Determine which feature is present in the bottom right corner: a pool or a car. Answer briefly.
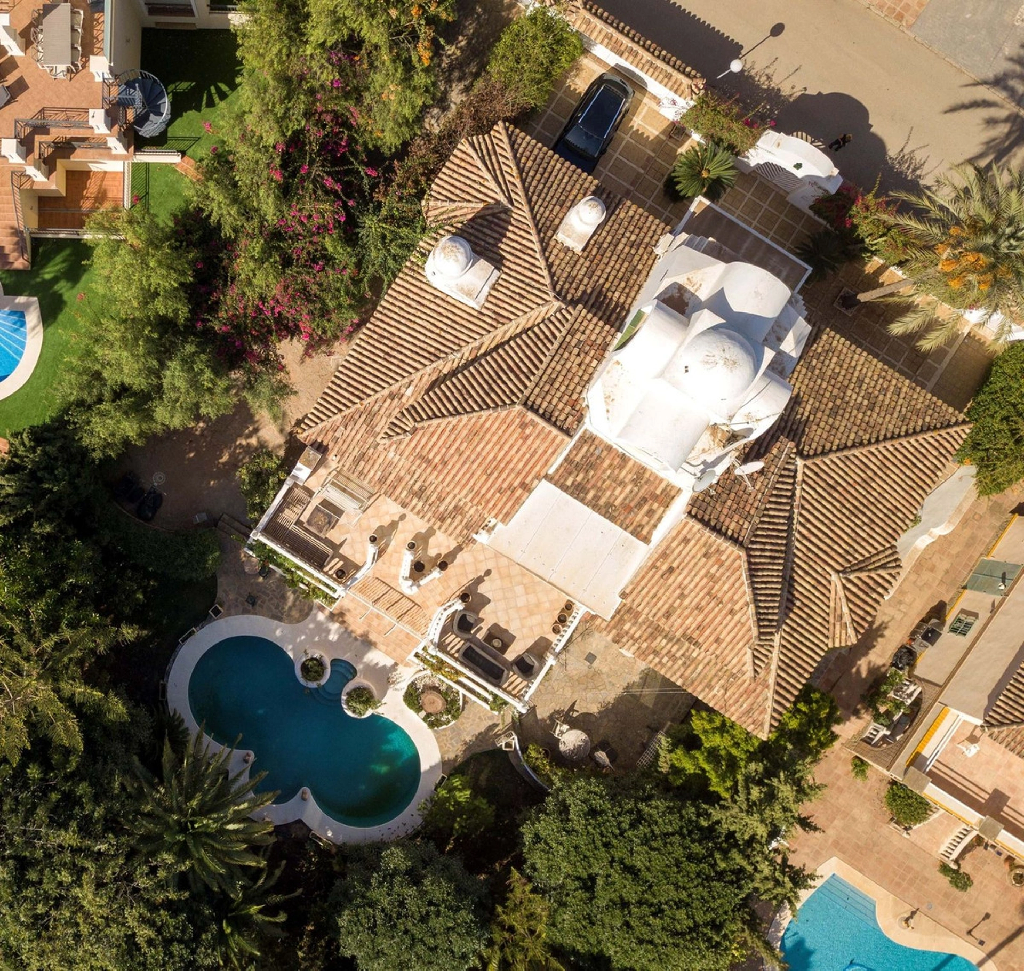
pool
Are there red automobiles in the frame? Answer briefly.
No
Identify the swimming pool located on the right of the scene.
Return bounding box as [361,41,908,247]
[778,875,979,971]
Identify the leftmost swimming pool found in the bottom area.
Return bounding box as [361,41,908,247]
[188,636,421,828]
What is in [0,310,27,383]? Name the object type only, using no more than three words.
swimming pool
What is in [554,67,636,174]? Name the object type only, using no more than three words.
car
